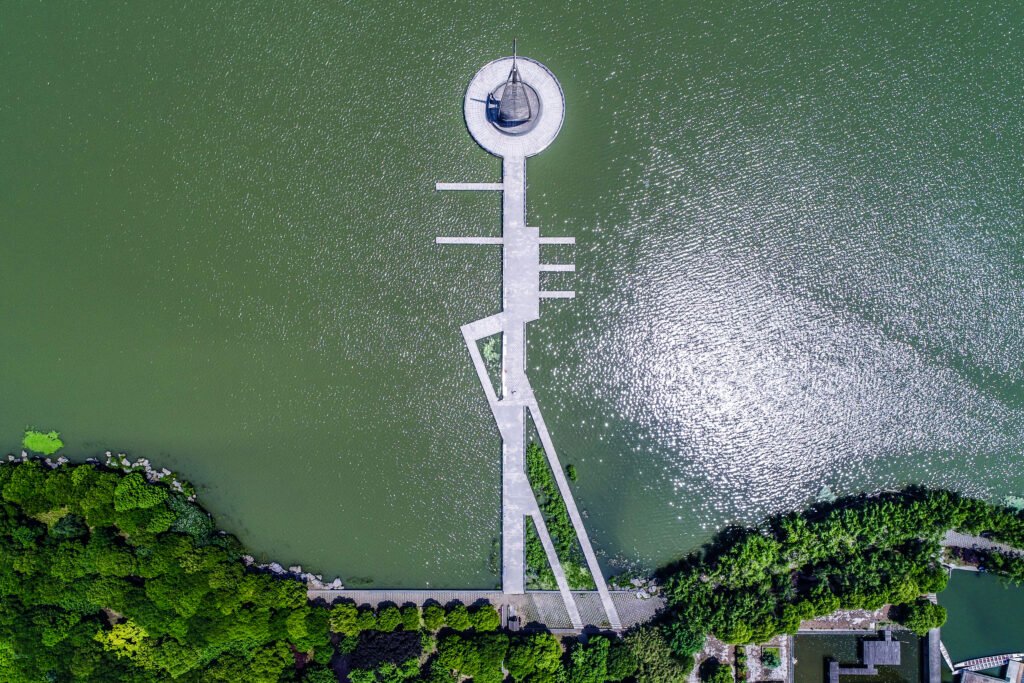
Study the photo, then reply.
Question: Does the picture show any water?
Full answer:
Yes, water can be seen from above here.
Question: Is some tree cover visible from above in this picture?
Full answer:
Yes, there is tree cover in the image.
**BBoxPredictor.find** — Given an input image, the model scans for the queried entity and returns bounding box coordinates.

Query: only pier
[436,157,621,628]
